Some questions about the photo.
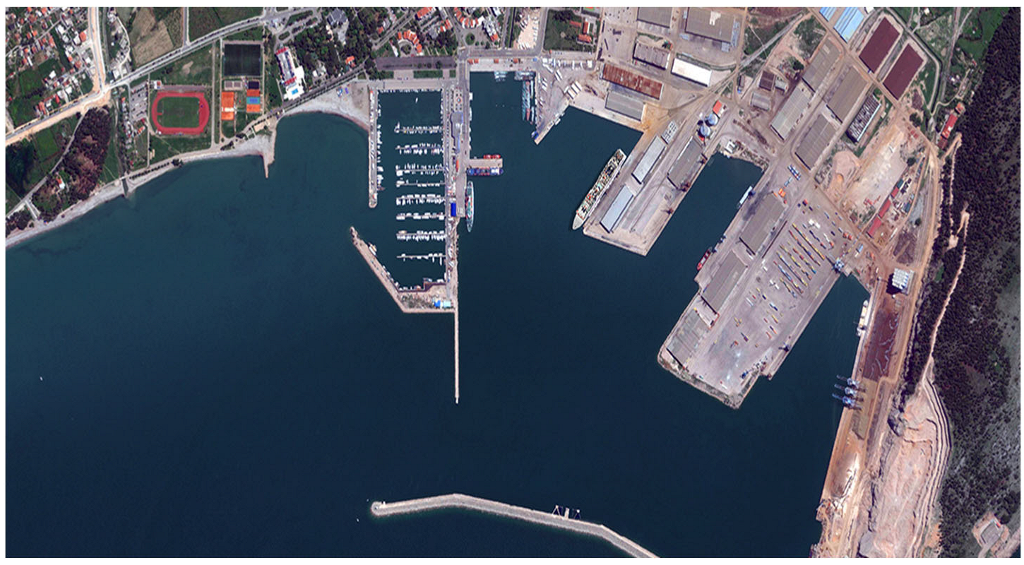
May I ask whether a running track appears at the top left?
Yes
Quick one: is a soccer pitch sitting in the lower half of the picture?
No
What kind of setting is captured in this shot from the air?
port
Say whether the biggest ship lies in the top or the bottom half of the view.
top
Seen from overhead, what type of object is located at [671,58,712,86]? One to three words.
building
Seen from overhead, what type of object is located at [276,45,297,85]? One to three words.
building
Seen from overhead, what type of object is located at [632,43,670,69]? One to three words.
shed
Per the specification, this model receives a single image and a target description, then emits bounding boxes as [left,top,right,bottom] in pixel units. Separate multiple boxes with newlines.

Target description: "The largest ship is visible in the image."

[573,149,627,229]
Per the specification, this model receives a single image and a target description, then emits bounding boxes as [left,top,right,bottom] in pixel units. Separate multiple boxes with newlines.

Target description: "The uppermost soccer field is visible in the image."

[222,41,263,77]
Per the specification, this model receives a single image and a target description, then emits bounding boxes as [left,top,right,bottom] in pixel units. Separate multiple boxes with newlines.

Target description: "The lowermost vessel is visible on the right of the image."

[857,300,869,336]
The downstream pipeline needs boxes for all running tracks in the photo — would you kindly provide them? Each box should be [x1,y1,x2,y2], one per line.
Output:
[151,90,209,136]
